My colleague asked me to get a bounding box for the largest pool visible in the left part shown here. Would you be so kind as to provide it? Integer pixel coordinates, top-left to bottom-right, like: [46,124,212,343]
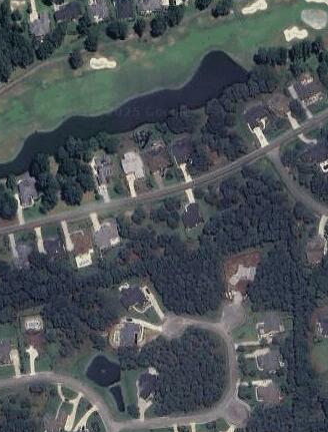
[24,318,41,330]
